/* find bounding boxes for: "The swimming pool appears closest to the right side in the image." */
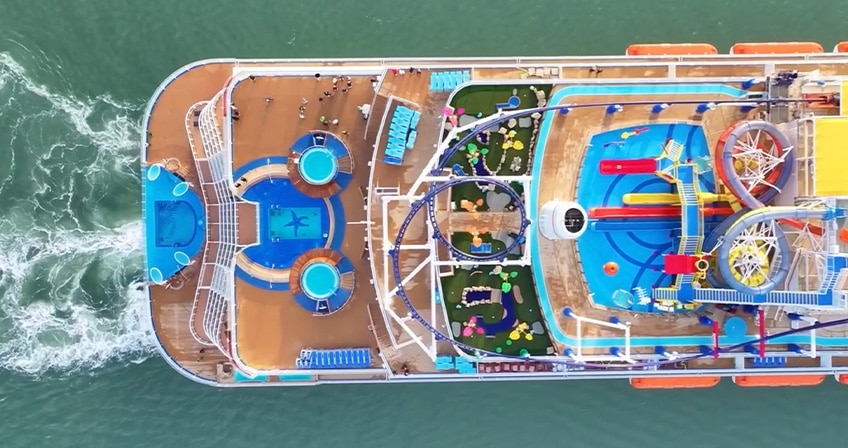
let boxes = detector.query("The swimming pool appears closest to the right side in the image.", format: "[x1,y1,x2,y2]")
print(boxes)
[574,117,729,318]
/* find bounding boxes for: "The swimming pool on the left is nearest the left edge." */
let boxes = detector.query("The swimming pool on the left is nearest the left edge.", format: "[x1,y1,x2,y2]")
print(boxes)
[147,166,206,284]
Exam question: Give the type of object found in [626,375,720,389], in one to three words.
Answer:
boat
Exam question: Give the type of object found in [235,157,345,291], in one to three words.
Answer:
swimming pool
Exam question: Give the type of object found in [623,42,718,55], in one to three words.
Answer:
boat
